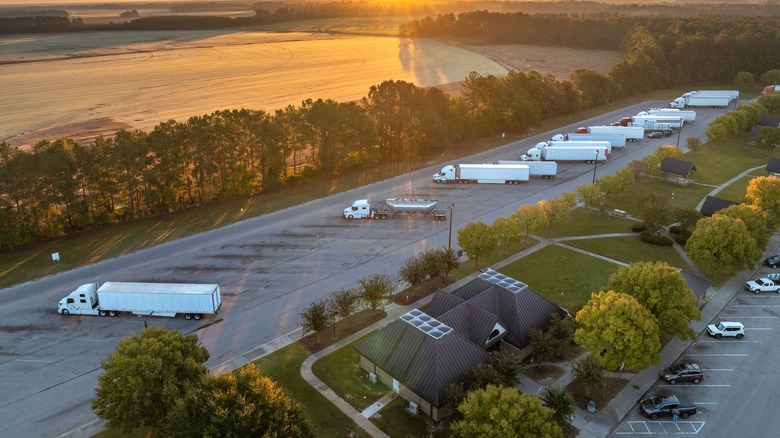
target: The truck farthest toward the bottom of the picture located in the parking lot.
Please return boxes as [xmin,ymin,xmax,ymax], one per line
[638,395,696,420]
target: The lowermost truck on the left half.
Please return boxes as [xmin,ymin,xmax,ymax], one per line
[57,282,213,319]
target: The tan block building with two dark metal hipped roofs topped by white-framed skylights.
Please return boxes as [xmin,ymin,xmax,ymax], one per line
[351,266,564,419]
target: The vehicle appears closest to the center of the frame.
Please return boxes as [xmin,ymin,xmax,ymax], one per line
[344,198,433,219]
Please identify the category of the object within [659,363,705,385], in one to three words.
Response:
car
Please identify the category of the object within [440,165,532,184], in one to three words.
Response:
vehicle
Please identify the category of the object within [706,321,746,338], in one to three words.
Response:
car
